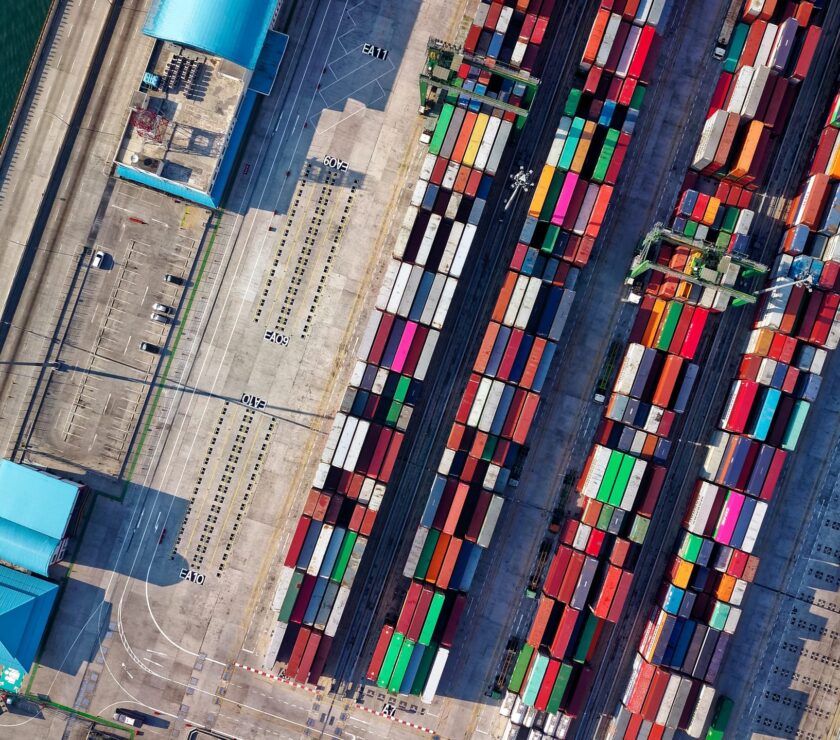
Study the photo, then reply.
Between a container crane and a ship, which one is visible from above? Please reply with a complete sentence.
It is a container crane that can be seen here.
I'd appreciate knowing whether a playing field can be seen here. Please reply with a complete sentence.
No, there isn't any playing field down there.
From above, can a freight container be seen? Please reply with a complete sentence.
Yes, a freight container appears in the view.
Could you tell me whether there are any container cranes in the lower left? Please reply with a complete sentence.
No, no container crane is visible in the lower left.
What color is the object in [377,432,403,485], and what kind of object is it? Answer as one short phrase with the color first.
red shipping container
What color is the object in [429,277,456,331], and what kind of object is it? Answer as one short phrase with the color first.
white shipping container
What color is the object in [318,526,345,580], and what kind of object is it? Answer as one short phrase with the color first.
blue shipping container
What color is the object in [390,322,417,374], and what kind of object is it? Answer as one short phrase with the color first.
pink shipping container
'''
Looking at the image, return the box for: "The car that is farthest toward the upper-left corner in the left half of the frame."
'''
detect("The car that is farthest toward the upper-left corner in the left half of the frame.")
[93,252,106,271]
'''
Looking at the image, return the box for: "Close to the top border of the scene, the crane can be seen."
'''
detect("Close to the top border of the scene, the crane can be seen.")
[411,30,544,162]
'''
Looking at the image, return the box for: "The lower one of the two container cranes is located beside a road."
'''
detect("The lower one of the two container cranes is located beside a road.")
[610,213,773,323]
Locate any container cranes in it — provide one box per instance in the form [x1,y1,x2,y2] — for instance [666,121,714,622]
[610,213,773,323]
[411,30,544,162]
